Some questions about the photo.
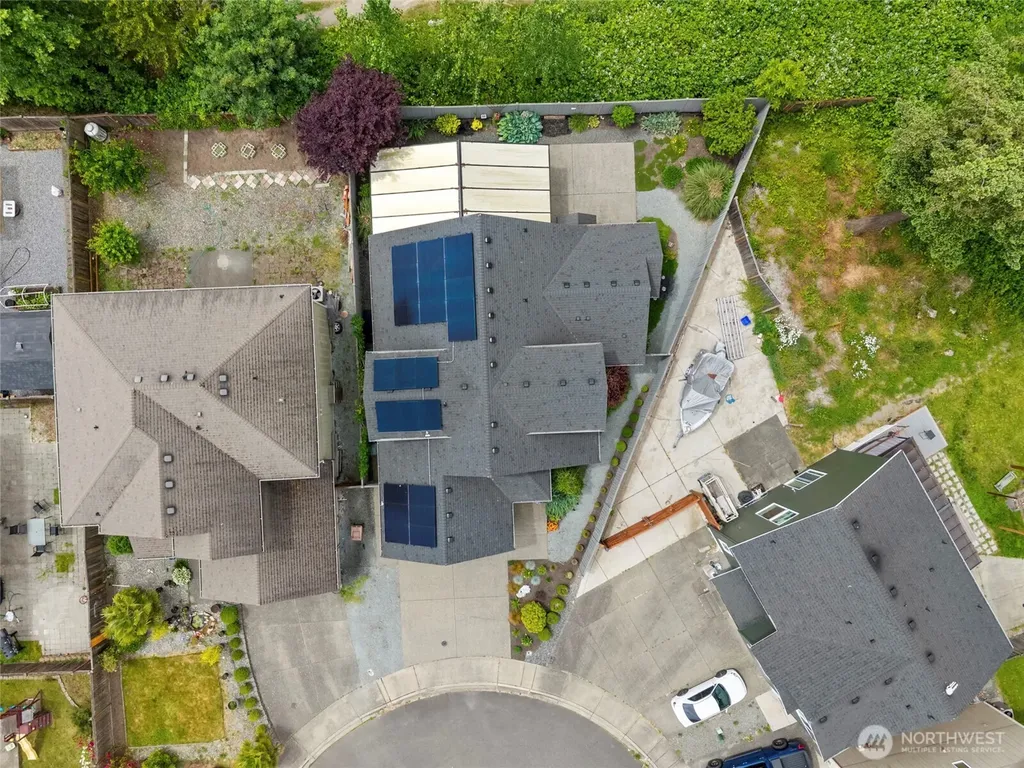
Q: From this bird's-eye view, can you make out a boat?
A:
Yes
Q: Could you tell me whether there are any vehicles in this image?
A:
Yes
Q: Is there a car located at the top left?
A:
No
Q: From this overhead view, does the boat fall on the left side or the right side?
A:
right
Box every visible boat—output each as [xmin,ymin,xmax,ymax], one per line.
[678,342,738,435]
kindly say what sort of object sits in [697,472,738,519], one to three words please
trailer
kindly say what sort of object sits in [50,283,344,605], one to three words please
house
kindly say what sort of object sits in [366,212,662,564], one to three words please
house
